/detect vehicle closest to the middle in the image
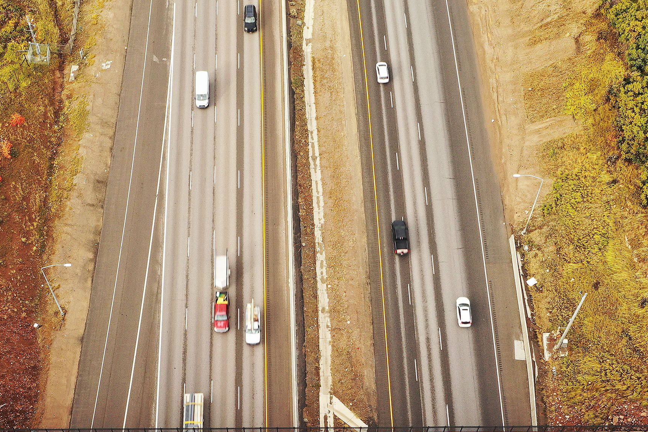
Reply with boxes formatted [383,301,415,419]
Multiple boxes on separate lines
[392,220,409,259]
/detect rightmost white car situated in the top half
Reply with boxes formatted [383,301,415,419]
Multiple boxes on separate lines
[376,61,389,83]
